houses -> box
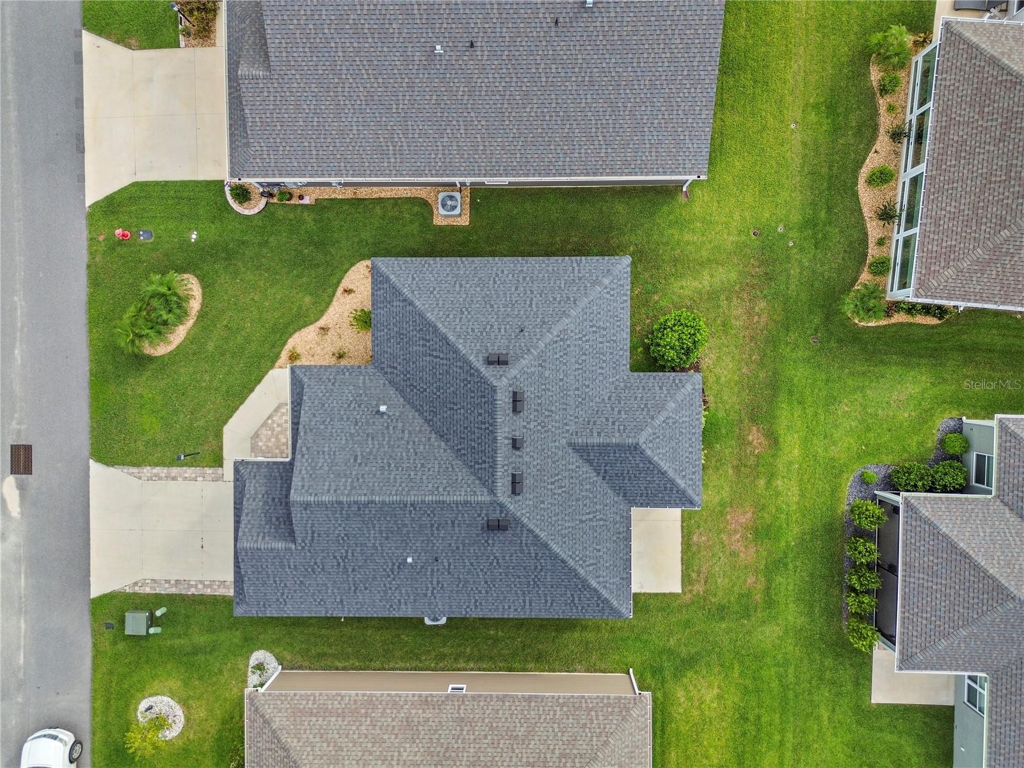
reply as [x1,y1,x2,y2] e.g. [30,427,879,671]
[227,0,727,193]
[888,0,1024,313]
[872,414,1024,768]
[233,256,703,619]
[246,661,652,768]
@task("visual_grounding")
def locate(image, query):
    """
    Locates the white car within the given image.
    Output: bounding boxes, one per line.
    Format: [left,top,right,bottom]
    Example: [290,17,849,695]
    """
[17,720,89,768]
